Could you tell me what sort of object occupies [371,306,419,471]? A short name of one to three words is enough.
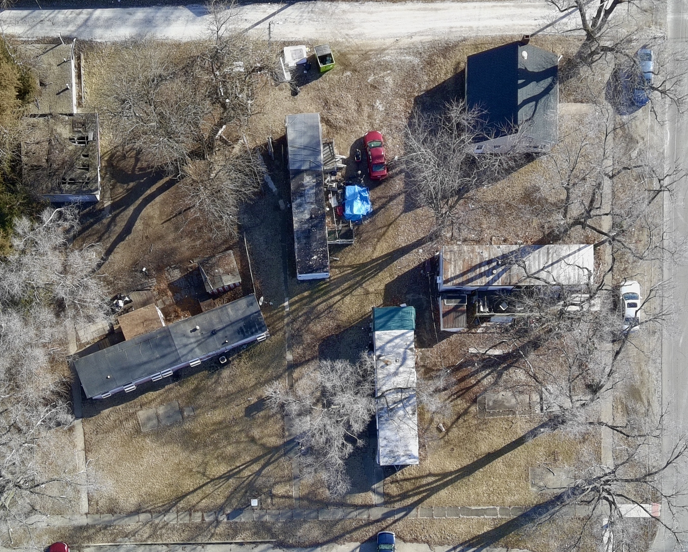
house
